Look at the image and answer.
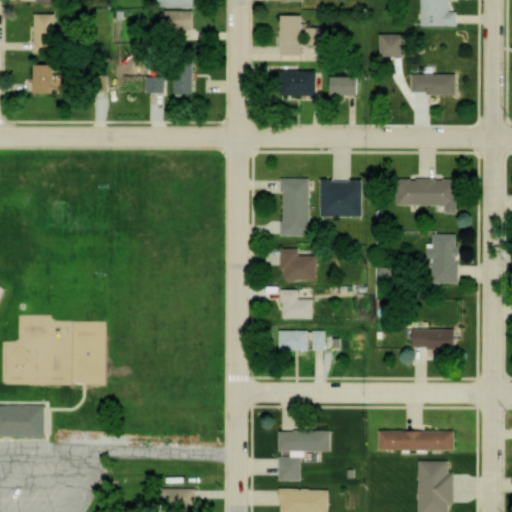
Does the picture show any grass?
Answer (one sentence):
Yes, some grass is visible.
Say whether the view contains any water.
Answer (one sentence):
No, no water is visible.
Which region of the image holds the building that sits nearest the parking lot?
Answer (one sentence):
Look in the bottom left portion of the view to spot the building that sits nearest the parking lot.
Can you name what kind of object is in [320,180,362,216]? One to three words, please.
house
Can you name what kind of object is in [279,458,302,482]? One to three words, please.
building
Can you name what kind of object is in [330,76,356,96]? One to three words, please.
house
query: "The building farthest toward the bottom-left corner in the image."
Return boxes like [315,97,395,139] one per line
[0,406,44,438]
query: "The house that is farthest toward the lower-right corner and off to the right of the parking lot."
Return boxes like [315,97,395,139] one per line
[418,462,454,512]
